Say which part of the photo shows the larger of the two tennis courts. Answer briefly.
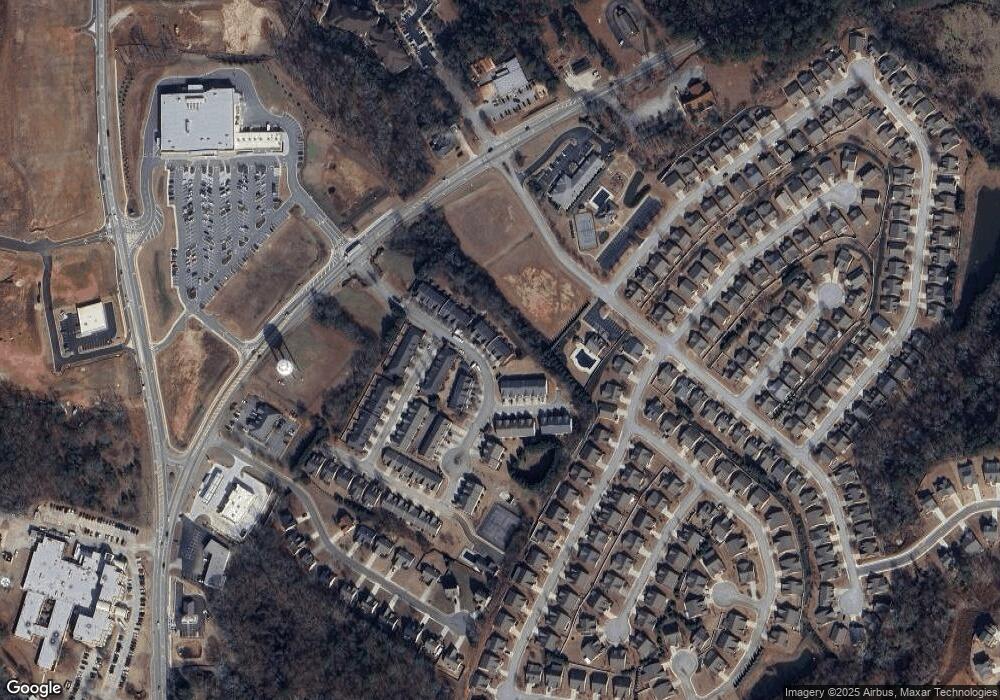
bottom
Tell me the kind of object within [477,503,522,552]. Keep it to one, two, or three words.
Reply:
tennis court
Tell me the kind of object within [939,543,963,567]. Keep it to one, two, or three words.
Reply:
house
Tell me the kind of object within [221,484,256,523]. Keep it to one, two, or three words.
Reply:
building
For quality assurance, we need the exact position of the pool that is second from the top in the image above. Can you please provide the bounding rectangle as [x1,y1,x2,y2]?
[570,343,601,373]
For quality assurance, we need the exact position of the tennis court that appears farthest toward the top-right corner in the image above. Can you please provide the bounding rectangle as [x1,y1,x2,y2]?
[573,213,598,251]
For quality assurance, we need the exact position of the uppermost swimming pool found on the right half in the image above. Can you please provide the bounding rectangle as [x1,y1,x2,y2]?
[591,186,613,209]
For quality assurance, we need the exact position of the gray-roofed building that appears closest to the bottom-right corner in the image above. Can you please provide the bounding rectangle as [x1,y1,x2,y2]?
[975,658,995,680]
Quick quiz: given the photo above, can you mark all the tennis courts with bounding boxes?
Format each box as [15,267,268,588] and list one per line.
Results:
[573,213,598,251]
[477,503,522,552]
